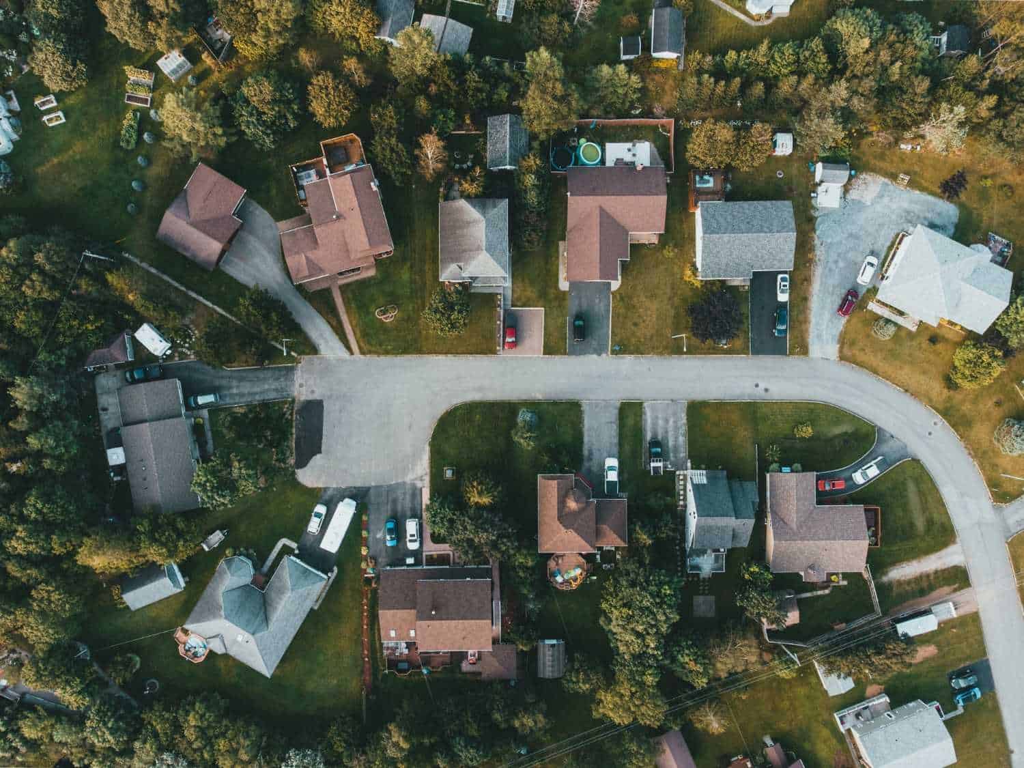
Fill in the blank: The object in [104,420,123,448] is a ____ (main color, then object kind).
black car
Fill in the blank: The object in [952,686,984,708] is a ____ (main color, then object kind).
blue car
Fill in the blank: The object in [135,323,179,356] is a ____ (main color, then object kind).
white camper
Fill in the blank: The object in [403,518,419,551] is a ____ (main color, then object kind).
white car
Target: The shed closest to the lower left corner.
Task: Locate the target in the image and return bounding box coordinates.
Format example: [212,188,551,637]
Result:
[120,568,188,611]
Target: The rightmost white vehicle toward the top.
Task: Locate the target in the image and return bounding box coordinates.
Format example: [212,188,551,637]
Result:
[855,254,879,287]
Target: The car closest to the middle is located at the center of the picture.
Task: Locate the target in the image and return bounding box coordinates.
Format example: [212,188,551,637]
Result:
[504,326,518,350]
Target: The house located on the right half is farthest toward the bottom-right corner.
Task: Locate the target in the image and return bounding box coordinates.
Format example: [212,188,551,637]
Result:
[832,692,957,768]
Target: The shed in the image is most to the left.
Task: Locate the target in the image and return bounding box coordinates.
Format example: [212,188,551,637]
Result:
[83,332,135,371]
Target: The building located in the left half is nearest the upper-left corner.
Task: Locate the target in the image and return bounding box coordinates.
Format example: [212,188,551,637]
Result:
[157,162,251,270]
